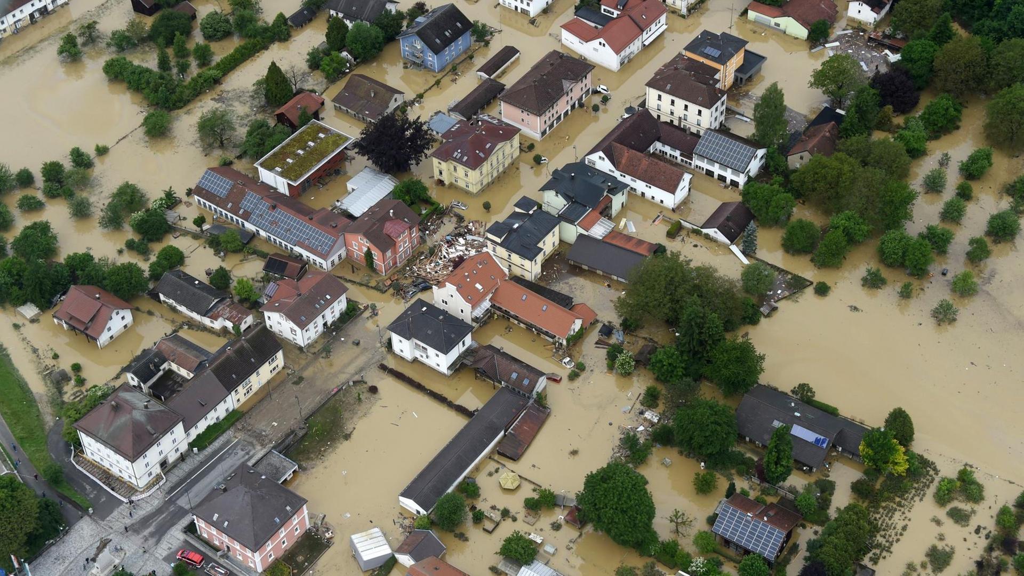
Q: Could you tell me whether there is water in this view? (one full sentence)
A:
Yes, there's water in this view.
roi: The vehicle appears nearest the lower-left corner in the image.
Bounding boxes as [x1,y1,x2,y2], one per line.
[179,550,202,566]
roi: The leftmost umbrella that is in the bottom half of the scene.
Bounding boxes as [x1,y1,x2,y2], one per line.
[499,470,519,485]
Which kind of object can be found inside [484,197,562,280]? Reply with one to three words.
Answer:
house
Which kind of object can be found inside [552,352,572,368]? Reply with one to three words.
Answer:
vehicle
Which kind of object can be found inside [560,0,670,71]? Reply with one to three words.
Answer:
building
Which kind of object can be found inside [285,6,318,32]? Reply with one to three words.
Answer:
shed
